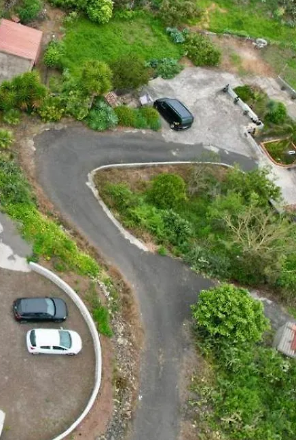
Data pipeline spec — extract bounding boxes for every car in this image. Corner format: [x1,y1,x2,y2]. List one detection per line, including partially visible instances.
[152,96,199,130]
[12,295,69,324]
[24,329,82,358]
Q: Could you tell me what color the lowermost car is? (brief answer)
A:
white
